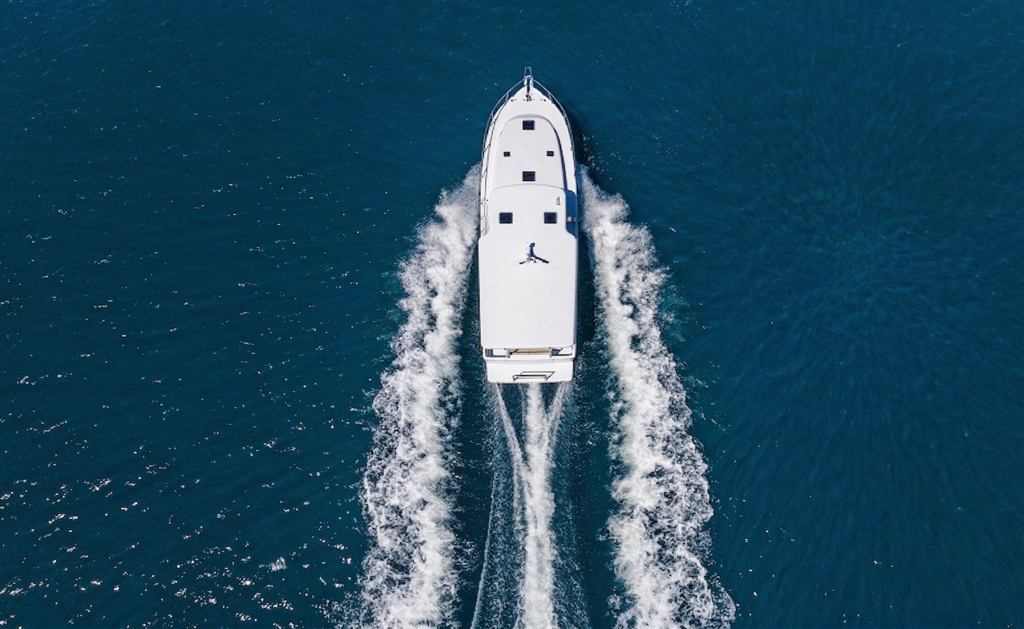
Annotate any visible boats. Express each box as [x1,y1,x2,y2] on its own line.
[479,66,579,384]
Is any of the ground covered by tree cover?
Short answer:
No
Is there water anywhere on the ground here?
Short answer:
Yes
